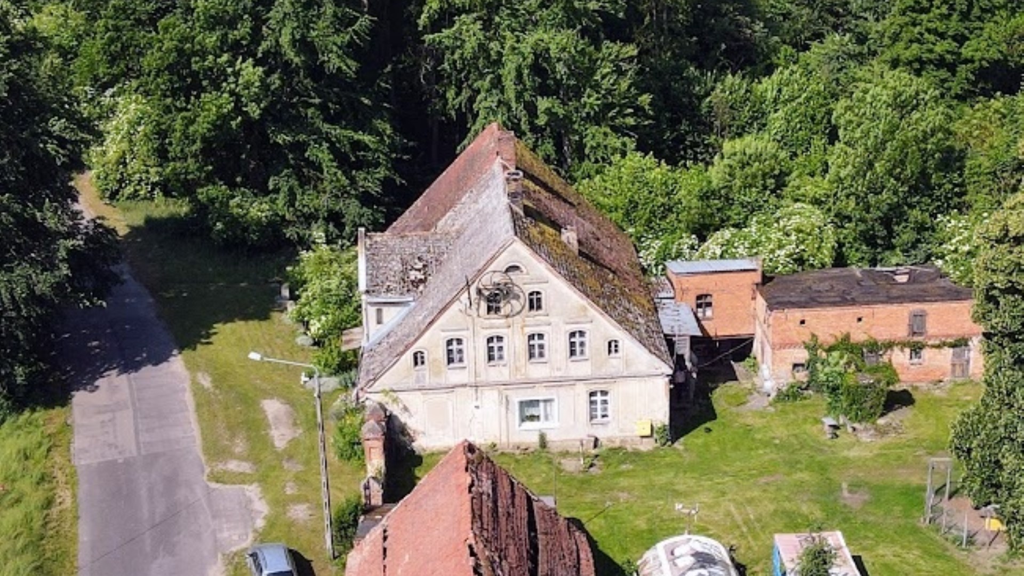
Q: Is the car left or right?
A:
left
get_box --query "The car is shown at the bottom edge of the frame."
[242,543,299,576]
